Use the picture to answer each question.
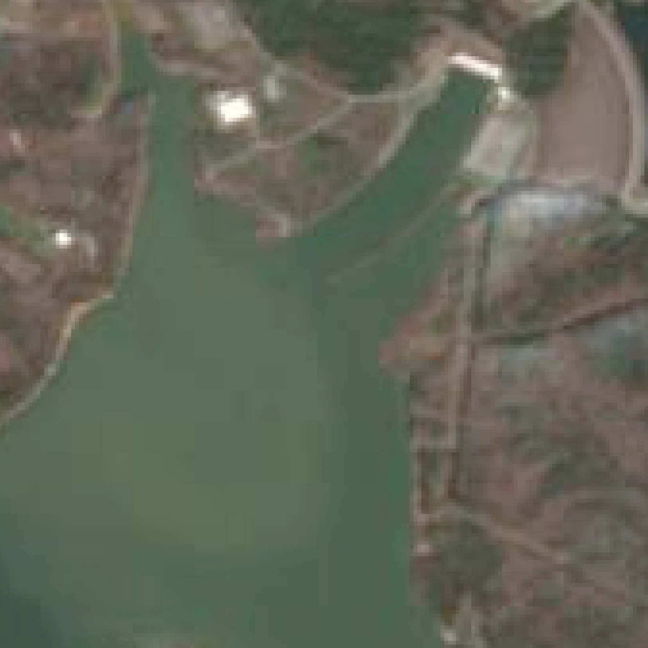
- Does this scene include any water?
Yes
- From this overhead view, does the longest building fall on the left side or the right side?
right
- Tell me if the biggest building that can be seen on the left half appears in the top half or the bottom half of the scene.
top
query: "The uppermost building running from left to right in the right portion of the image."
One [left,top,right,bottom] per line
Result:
[449,52,501,75]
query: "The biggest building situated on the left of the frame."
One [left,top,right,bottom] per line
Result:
[217,96,250,120]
